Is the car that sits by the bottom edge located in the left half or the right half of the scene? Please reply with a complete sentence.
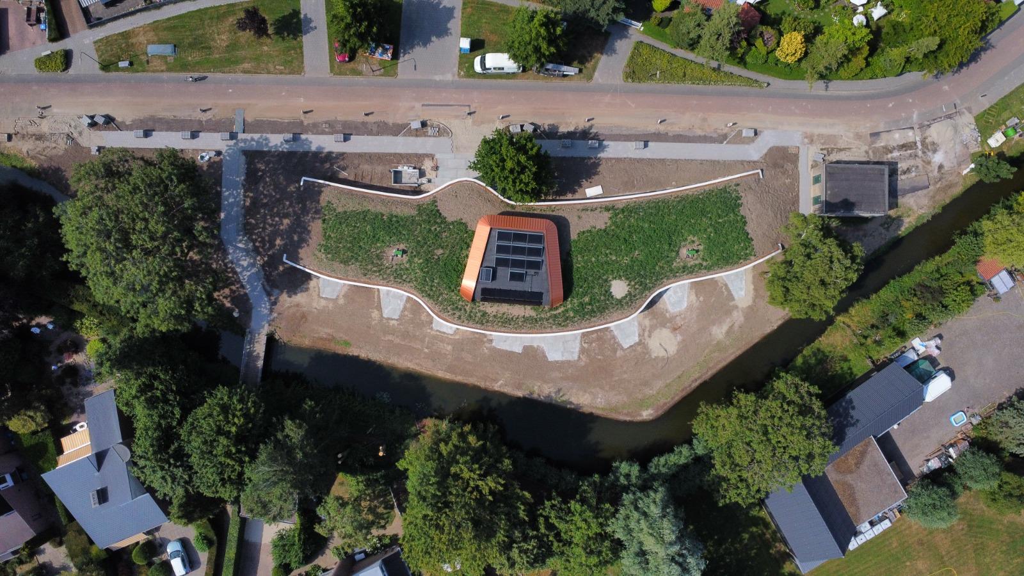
You can find the car that sits by the bottom edge on the left side of the picture.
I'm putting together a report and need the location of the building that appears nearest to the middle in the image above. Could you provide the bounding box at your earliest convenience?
[461,216,564,308]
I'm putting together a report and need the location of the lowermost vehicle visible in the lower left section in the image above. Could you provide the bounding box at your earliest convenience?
[168,541,193,576]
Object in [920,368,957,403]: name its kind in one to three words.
camper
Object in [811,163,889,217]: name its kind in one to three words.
building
